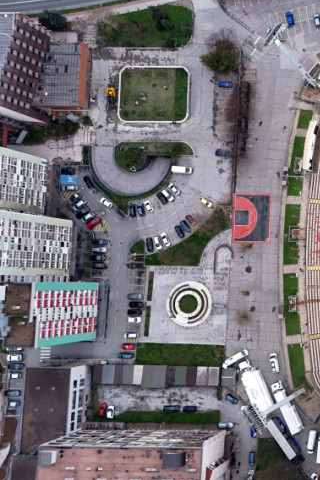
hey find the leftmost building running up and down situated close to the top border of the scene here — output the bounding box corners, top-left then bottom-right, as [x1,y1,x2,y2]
[0,13,48,124]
